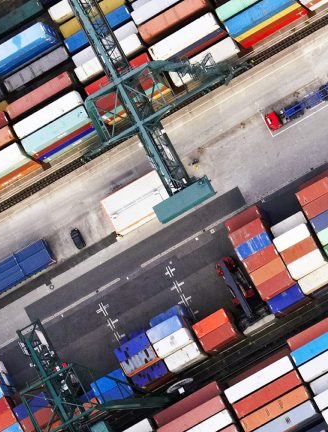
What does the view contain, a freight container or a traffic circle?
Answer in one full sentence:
The image shows a freight container.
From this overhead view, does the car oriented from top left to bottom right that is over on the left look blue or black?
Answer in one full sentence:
The color of the car oriented from top left to bottom right that is over on the left is black.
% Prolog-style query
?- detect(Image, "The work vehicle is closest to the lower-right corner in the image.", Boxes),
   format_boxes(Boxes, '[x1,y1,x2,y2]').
[216,254,273,334]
